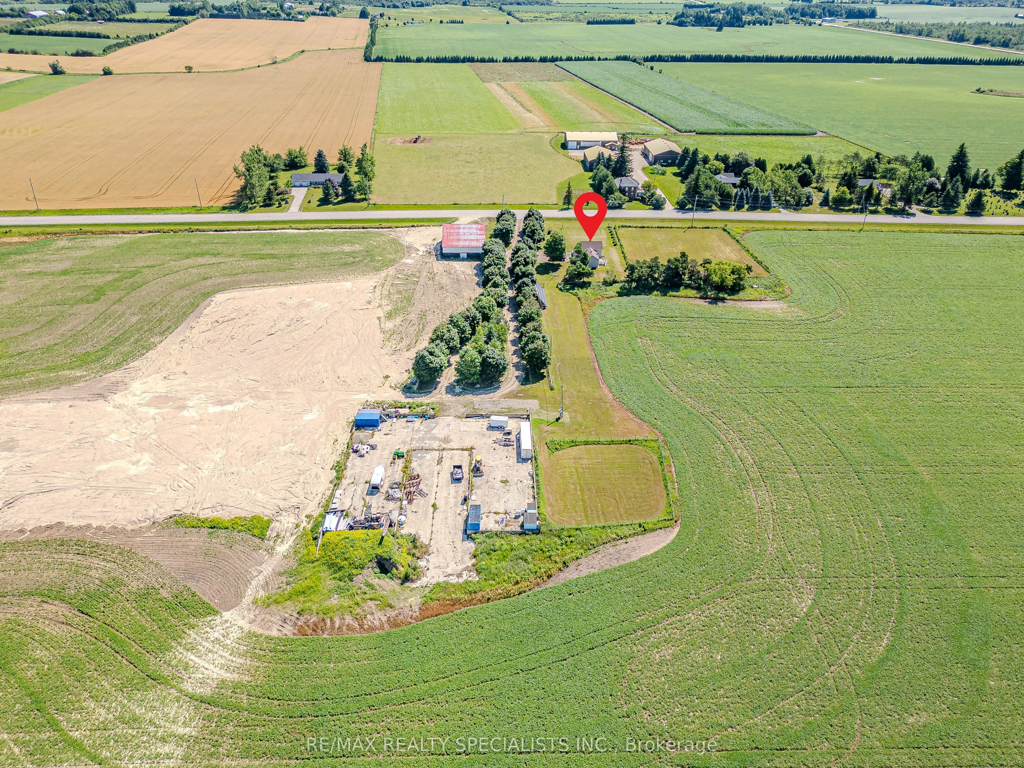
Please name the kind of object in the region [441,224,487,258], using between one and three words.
barn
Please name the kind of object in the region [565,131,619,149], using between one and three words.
barn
